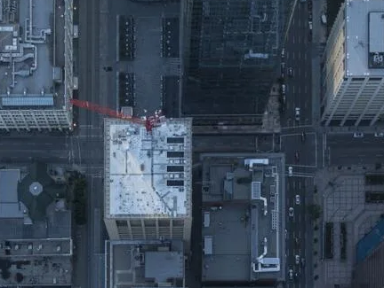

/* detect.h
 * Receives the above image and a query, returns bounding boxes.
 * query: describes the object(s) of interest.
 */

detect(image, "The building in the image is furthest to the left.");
[0,171,21,217]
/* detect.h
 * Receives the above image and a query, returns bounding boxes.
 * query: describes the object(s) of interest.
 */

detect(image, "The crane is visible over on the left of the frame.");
[72,95,169,126]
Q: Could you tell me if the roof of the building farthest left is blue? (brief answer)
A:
Yes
